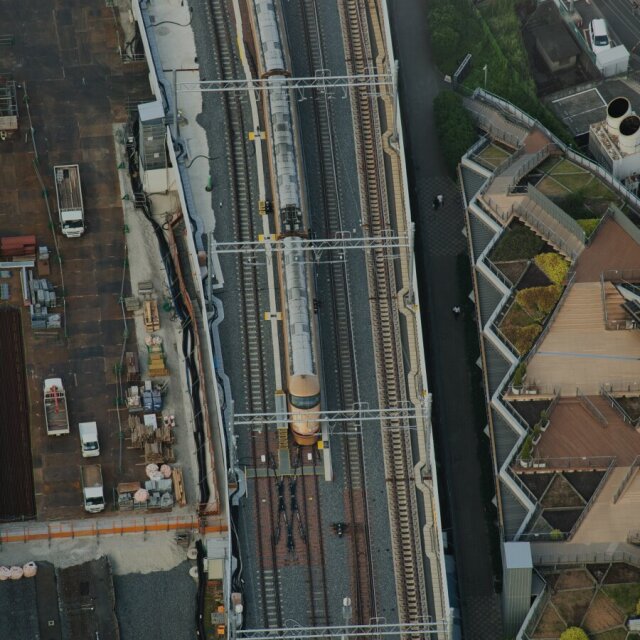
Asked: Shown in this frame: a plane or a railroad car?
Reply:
railroad car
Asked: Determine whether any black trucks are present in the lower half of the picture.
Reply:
No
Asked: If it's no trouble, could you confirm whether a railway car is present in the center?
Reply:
Yes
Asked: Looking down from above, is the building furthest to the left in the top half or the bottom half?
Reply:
top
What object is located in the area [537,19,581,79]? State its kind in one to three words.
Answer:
shed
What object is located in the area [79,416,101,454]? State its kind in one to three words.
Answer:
truck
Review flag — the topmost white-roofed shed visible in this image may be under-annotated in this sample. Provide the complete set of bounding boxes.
[596,45,629,82]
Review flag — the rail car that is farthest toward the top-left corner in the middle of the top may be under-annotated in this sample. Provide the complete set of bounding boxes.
[245,0,286,96]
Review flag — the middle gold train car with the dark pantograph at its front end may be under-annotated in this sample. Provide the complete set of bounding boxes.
[257,69,308,259]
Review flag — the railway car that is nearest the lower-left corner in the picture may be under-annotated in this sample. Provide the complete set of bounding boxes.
[277,232,319,445]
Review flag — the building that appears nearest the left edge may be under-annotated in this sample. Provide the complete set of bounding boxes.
[138,91,169,161]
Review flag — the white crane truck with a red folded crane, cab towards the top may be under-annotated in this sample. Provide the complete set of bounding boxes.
[42,374,68,431]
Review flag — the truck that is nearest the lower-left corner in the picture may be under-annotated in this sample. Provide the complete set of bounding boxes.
[81,462,106,510]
